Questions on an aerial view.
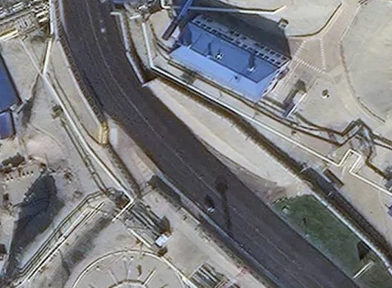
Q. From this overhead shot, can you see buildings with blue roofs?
Yes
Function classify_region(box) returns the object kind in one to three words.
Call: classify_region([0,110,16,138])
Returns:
building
